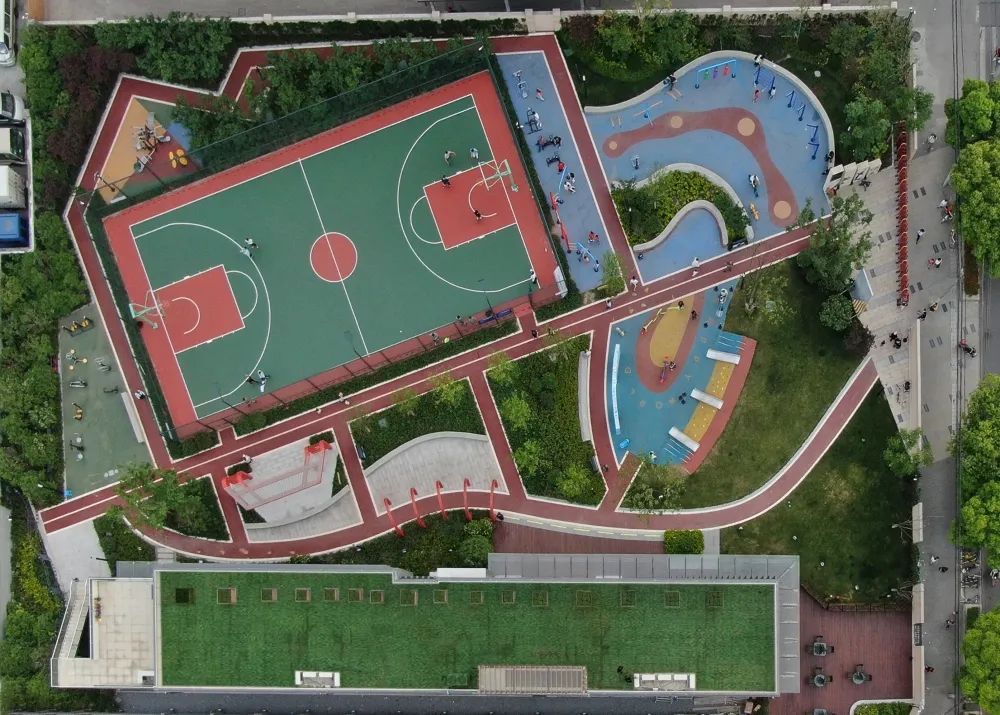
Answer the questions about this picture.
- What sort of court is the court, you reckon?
basketball court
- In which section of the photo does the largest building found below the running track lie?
bottom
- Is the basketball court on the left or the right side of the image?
left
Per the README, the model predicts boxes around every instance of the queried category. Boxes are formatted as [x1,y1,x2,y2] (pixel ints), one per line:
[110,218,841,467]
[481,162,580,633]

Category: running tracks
[36,32,880,563]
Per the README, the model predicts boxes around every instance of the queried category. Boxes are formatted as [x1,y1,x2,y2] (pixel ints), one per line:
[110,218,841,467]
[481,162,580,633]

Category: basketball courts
[104,71,565,442]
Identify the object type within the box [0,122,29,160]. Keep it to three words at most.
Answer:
truck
